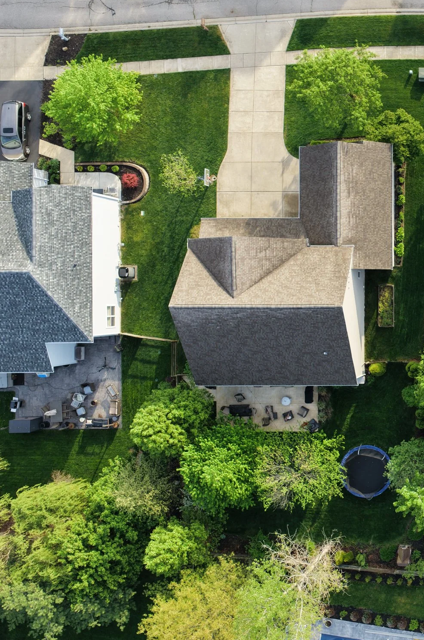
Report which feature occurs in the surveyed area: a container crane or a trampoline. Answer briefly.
trampoline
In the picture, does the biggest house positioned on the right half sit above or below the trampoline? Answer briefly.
above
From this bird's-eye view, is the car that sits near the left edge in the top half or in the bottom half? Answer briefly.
top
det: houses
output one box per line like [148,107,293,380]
[168,141,396,387]
[0,161,122,374]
